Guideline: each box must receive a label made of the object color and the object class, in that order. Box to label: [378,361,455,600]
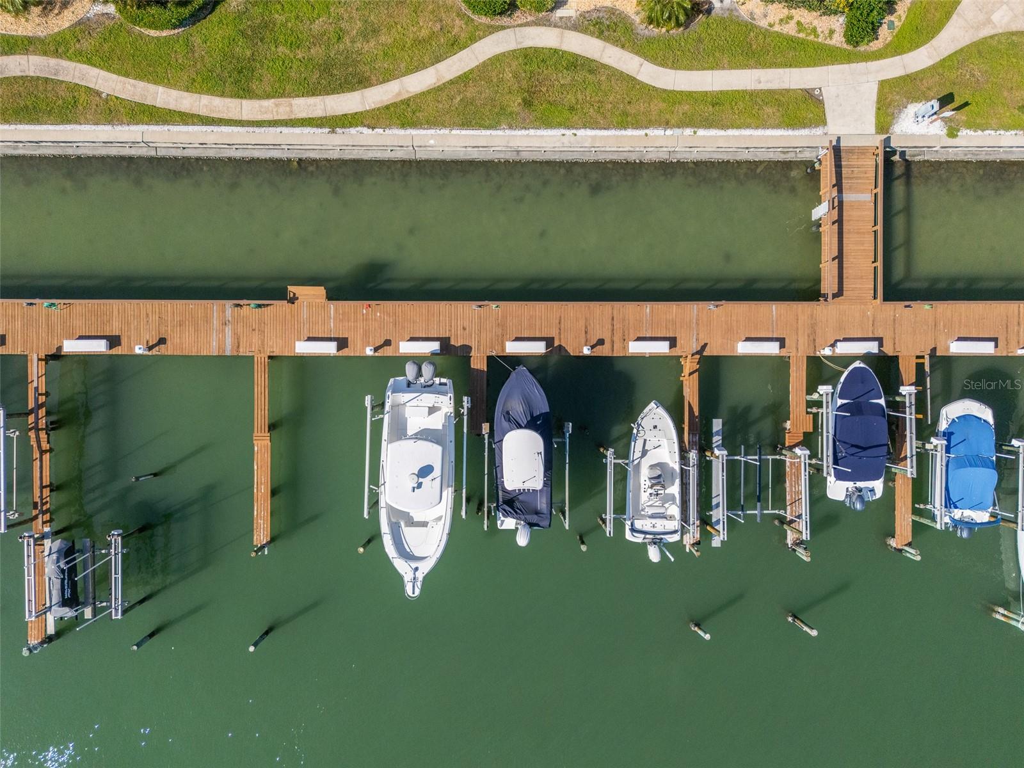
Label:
white boat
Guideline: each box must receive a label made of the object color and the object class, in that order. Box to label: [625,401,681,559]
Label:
white boat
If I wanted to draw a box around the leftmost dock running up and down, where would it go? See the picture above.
[28,353,65,643]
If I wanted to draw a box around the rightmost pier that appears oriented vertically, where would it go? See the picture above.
[877,354,932,547]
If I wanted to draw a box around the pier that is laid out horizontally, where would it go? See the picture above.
[0,299,1024,356]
